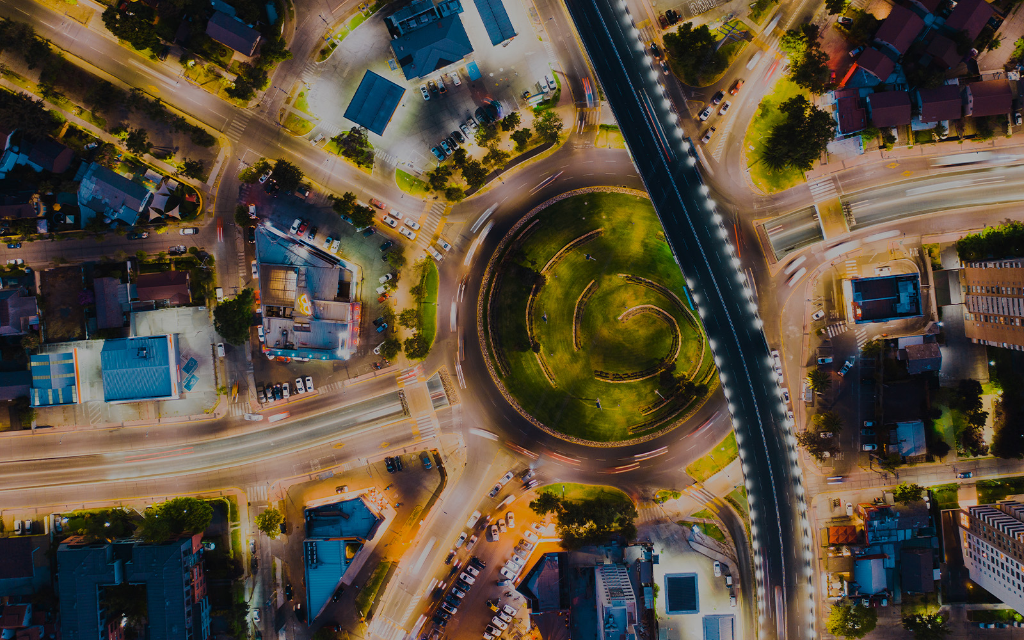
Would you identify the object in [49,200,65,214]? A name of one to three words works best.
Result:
umbrella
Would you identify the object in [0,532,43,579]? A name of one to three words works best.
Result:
building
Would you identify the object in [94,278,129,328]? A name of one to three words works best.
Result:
house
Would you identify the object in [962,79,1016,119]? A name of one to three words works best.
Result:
house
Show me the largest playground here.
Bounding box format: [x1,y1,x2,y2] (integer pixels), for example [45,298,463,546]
[118,165,157,192]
